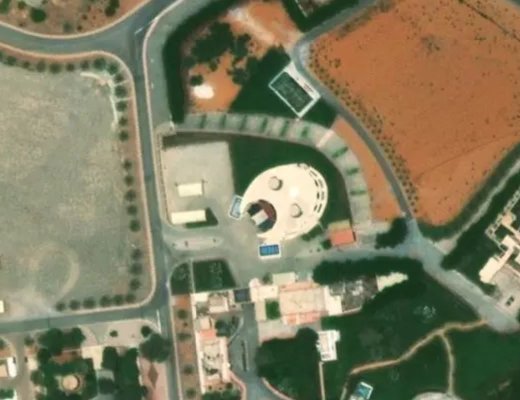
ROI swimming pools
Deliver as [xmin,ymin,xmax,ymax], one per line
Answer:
[235,289,250,303]
[258,243,281,258]
[229,195,243,218]
[355,382,373,400]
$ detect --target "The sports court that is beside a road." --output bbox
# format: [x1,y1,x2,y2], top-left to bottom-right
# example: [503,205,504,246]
[270,61,321,115]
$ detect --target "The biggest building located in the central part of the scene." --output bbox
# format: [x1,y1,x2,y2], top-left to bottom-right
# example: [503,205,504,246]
[243,163,329,243]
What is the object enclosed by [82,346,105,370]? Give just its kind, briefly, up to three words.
house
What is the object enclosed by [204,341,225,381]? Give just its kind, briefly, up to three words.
house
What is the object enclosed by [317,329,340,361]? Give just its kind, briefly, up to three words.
building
